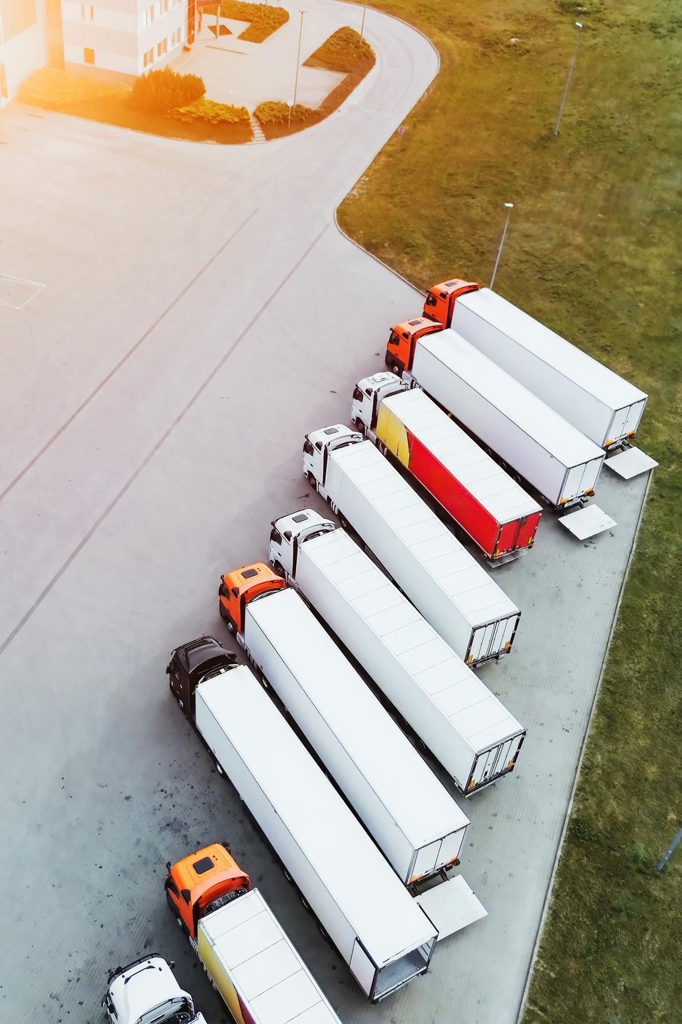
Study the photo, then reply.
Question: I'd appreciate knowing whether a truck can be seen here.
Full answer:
Yes, you can see a truck in this photo.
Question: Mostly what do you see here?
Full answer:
The bulk of the photo consists of paved ground.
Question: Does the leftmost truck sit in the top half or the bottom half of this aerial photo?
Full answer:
Seen from above, the leftmost truck lies in the bottom half of the view.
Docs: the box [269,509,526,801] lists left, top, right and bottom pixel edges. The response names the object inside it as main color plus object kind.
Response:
white truck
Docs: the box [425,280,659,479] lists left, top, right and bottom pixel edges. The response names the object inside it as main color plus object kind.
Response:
white truck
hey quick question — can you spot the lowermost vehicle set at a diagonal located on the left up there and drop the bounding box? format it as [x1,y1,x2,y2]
[161,844,347,1024]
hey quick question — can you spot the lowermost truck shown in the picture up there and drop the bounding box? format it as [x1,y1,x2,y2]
[97,958,206,1024]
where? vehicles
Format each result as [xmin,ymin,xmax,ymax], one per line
[161,844,347,1024]
[425,280,659,479]
[97,958,206,1024]
[269,509,526,801]
[353,376,543,572]
[387,320,616,541]
[167,638,441,1009]
[303,426,521,671]
[218,566,488,941]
